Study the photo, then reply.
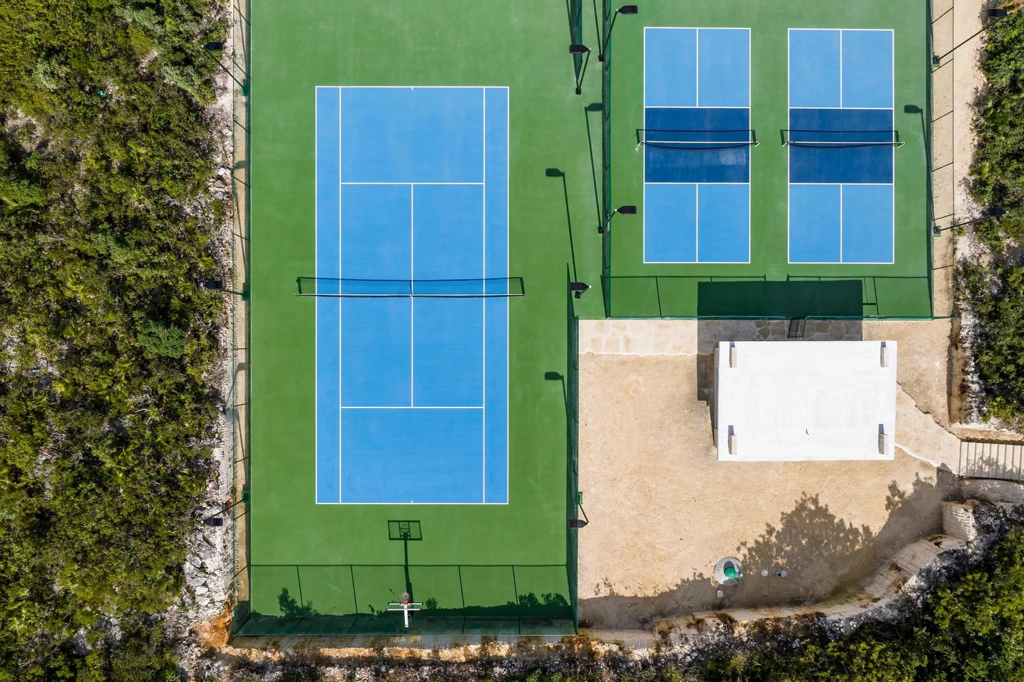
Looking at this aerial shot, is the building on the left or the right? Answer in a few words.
right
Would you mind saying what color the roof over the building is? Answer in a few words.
white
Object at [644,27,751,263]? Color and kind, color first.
blue sports court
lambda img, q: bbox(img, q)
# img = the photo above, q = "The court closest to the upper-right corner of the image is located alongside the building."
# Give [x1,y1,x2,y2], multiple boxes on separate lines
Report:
[788,28,894,264]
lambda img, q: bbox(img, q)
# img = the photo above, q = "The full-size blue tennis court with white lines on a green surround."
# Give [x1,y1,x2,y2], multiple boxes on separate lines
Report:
[251,0,606,627]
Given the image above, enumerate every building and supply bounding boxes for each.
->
[716,341,897,461]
